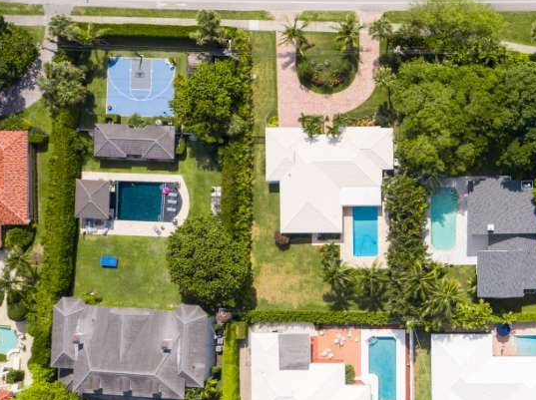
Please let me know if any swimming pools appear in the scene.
Yes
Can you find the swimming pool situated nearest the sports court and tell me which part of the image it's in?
left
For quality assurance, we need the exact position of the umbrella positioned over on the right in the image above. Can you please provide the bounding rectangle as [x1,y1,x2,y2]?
[496,322,511,337]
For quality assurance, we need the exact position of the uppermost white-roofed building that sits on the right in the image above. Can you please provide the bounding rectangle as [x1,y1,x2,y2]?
[266,126,394,233]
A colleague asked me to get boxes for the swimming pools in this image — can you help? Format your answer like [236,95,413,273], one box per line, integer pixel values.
[117,180,164,222]
[428,179,460,251]
[367,335,398,400]
[0,323,20,356]
[351,206,379,258]
[511,333,536,356]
